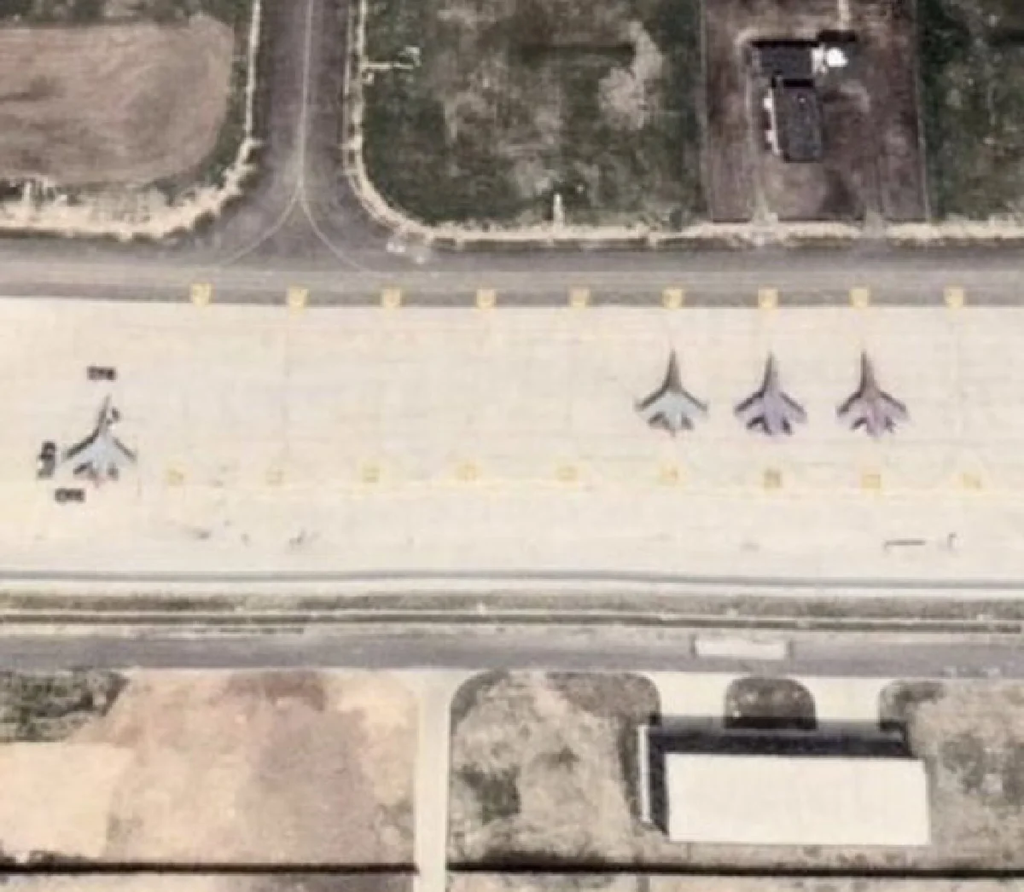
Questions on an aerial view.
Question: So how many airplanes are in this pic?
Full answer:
The number of airplanes here is 4.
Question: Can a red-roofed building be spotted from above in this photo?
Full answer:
No, the scene contains no red-roofed building.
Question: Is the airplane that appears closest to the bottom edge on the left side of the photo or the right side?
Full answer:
The airplane that appears closest to the bottom edge sits on the left side.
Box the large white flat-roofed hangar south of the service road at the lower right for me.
[651,734,930,846]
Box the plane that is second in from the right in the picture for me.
[739,352,809,439]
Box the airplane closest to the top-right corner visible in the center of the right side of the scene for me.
[836,351,906,438]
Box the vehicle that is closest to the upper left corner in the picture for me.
[88,371,114,383]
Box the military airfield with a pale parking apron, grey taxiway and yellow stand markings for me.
[0,0,1024,581]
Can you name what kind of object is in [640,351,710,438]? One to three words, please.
airplane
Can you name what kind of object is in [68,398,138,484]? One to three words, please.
airplane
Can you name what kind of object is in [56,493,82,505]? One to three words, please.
vehicle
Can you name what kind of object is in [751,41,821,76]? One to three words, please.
building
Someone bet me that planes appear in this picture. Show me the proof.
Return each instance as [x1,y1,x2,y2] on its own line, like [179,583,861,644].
[836,351,906,438]
[739,352,809,439]
[640,351,710,438]
[68,398,138,484]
